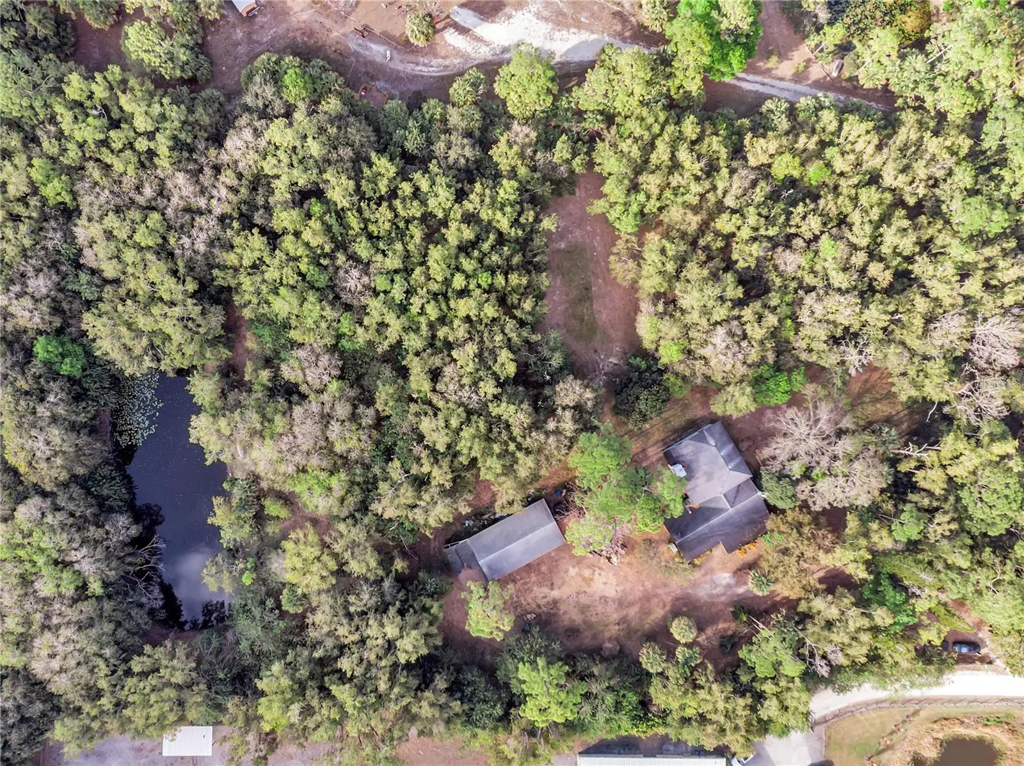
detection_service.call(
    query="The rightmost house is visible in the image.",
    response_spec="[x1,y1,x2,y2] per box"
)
[662,420,776,564]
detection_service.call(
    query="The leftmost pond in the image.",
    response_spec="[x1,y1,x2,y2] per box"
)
[105,360,240,633]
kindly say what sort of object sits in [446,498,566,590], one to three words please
shed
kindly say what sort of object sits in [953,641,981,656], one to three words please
car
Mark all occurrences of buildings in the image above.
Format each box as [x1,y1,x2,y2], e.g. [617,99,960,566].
[233,0,262,23]
[446,498,566,590]
[162,720,217,756]
[662,420,776,564]
[577,751,726,766]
